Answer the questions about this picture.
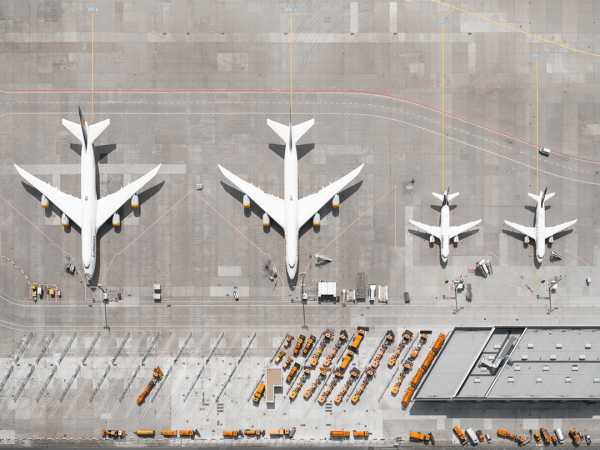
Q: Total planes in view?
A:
four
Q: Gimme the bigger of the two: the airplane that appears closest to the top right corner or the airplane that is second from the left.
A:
the airplane that is second from the left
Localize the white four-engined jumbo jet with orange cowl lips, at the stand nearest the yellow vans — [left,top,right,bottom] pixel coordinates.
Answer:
[15,105,161,279]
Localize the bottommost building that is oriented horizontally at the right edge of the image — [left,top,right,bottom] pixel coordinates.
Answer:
[412,325,600,400]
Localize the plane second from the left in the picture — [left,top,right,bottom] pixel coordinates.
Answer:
[218,108,363,279]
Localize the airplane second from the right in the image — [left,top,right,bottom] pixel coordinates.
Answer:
[409,188,482,261]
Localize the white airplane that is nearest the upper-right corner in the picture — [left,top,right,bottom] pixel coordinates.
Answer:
[504,186,578,261]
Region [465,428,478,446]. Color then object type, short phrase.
white vehicle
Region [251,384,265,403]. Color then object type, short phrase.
orange vehicle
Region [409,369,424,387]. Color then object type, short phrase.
orange vehicle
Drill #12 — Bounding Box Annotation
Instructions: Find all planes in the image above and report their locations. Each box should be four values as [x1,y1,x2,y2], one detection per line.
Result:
[15,105,161,279]
[218,108,363,279]
[409,188,482,261]
[504,186,578,261]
